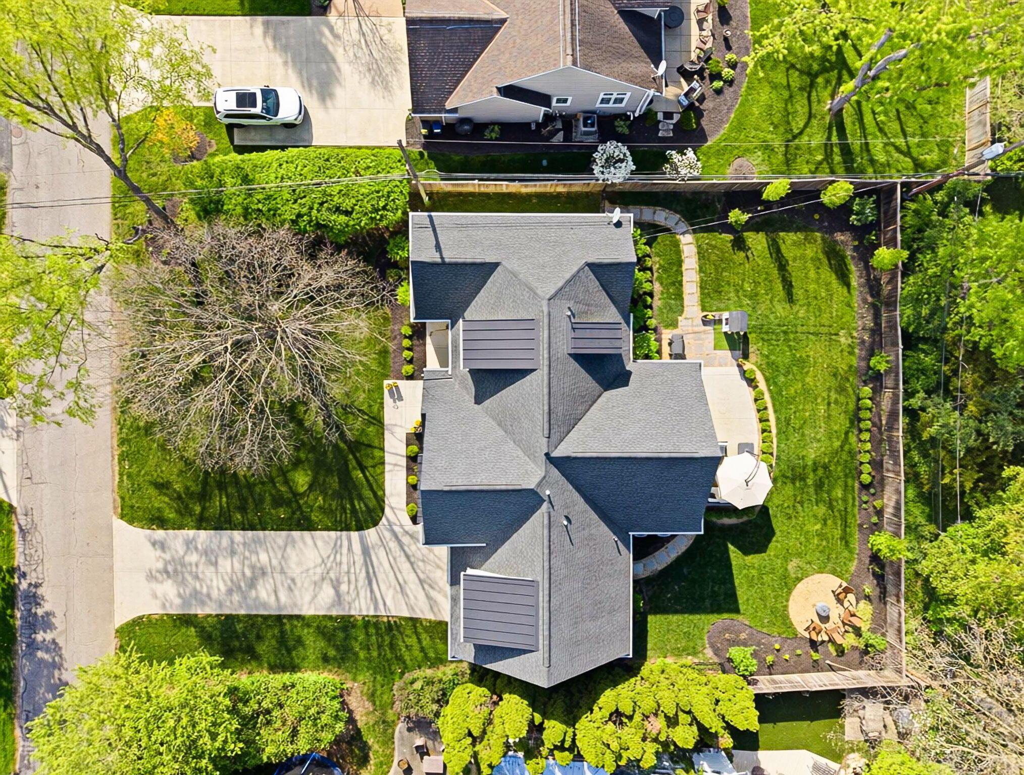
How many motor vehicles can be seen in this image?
1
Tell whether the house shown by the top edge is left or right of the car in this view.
right of it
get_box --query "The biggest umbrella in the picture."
[715,441,771,507]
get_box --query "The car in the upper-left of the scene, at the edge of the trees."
[213,82,307,130]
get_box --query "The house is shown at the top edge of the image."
[407,0,682,135]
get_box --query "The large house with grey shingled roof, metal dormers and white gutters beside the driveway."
[408,210,721,693]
